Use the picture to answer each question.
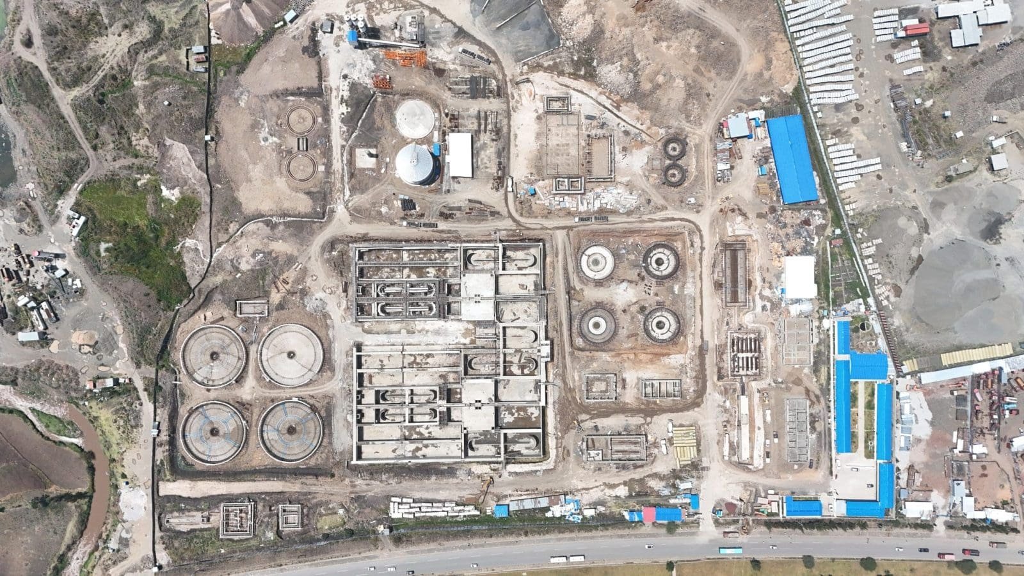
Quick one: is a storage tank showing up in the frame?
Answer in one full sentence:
Yes, there's a storage tank here.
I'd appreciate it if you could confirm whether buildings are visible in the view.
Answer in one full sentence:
Yes, the picture does show a building.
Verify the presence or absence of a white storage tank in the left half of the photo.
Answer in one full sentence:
Yes, I can see a white storage tank in the left half of the photo.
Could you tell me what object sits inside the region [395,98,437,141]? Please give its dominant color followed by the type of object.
white storage tank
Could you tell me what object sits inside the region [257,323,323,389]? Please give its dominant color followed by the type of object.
white storage tank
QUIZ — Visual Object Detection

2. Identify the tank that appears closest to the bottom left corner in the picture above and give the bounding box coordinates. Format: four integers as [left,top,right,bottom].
[179,398,246,465]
